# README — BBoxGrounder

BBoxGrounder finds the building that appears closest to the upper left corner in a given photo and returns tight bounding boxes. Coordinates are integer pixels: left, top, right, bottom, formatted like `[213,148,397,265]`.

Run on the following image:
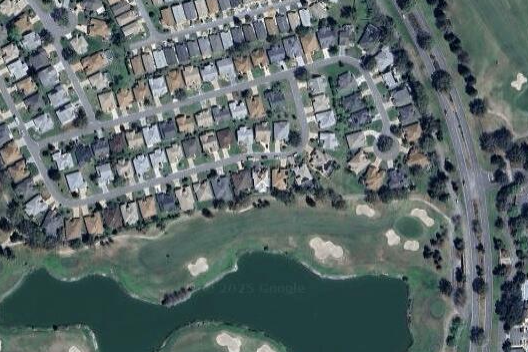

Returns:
[0,0,27,18]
